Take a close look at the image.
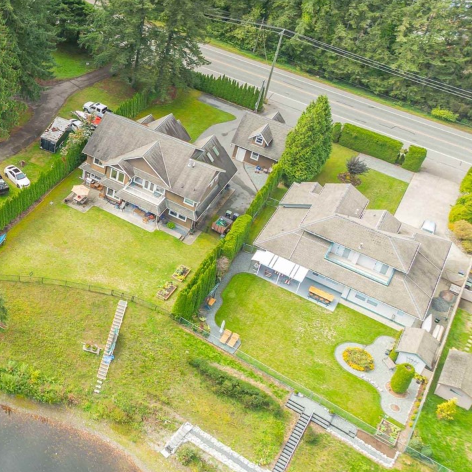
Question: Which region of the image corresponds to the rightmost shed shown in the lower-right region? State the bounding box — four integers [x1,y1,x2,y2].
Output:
[436,349,472,405]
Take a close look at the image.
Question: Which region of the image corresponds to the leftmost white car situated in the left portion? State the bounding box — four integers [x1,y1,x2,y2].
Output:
[0,165,34,190]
